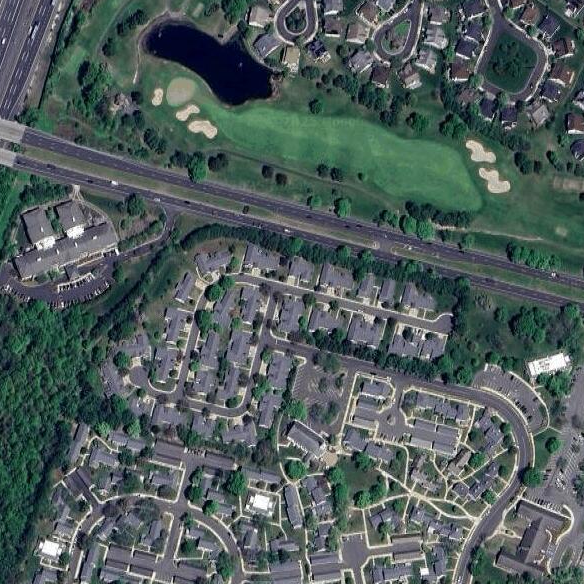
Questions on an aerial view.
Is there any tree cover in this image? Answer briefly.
Yes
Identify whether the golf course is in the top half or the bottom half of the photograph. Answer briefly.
top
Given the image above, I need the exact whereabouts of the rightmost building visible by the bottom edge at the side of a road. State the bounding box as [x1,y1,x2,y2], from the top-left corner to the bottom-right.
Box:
[495,499,566,579]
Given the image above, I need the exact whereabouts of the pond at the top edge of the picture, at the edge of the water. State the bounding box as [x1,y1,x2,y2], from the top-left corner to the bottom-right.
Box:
[146,22,273,104]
